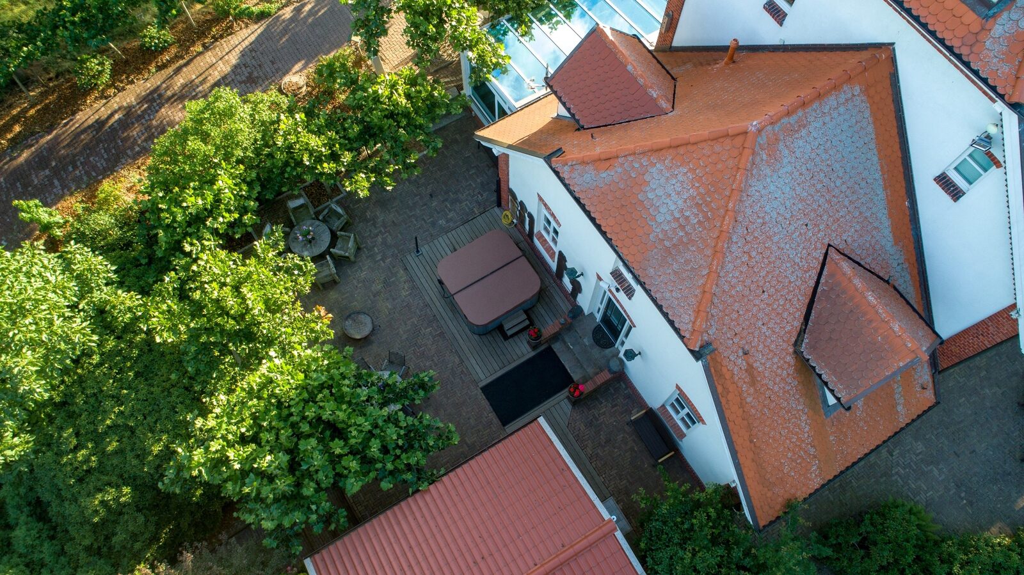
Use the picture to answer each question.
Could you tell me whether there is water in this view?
No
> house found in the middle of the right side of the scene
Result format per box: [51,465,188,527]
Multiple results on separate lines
[475,0,1024,534]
